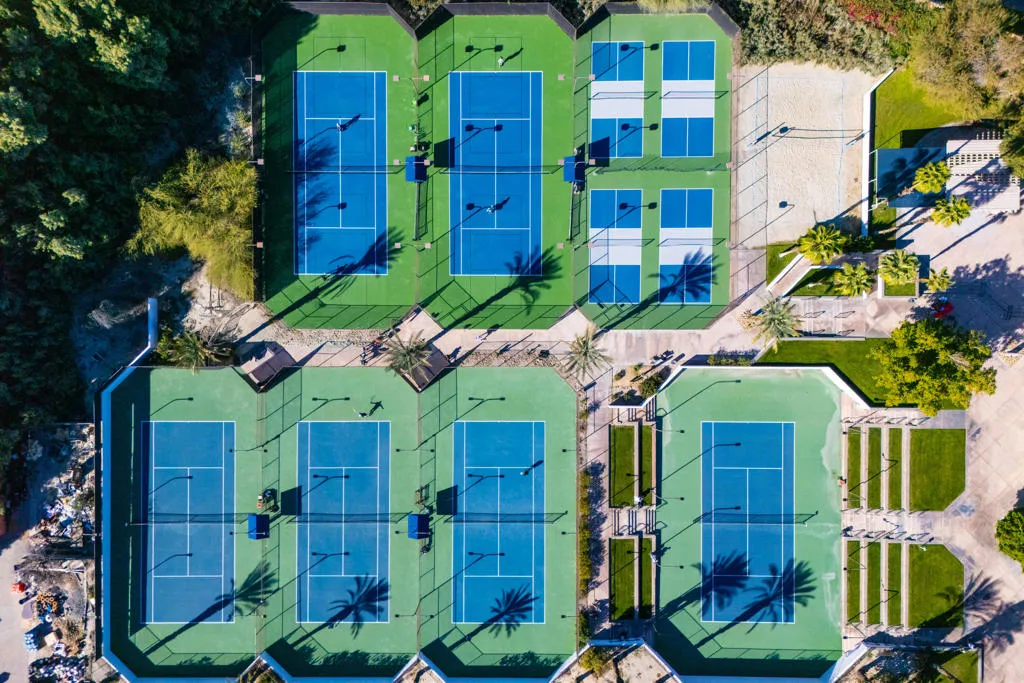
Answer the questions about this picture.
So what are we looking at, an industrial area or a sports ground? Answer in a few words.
sports ground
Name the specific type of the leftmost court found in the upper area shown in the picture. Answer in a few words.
tennis court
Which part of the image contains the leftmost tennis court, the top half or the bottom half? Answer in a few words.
bottom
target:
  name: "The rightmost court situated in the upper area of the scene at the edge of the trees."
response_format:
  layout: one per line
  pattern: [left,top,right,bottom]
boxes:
[740,57,892,249]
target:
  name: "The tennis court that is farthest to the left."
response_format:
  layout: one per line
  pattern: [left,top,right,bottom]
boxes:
[110,367,266,677]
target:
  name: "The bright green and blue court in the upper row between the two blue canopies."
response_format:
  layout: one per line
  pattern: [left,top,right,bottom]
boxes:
[417,15,575,328]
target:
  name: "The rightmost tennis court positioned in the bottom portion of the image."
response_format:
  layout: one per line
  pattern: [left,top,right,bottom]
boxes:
[657,368,842,677]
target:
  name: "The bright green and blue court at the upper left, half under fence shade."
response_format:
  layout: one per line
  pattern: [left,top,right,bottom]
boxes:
[264,15,418,328]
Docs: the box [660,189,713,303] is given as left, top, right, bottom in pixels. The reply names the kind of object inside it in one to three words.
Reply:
sports court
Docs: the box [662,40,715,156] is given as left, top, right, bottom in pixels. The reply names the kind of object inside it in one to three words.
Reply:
sports court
